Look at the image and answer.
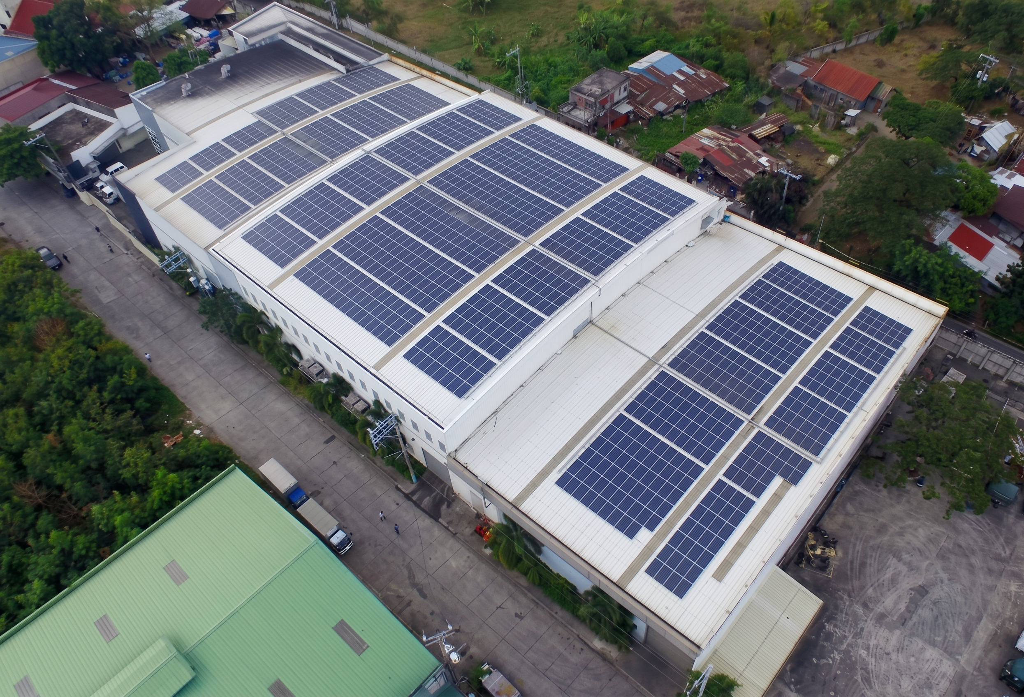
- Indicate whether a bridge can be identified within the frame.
No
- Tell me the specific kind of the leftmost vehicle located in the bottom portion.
truck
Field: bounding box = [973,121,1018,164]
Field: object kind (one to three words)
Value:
shed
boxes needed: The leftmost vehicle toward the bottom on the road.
[258,458,312,514]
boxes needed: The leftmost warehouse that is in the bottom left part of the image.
[0,462,439,697]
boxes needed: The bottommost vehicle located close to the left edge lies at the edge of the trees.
[36,247,65,269]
